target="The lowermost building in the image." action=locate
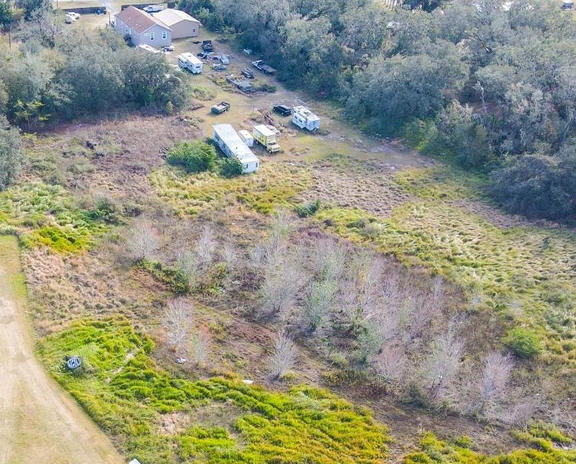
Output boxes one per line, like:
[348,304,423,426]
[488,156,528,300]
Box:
[212,125,263,171]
